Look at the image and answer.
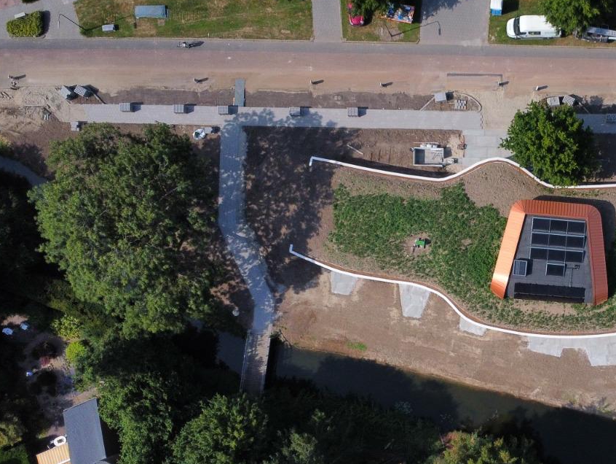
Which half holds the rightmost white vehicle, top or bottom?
top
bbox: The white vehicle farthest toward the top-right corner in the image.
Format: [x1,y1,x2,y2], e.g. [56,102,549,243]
[507,14,565,41]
